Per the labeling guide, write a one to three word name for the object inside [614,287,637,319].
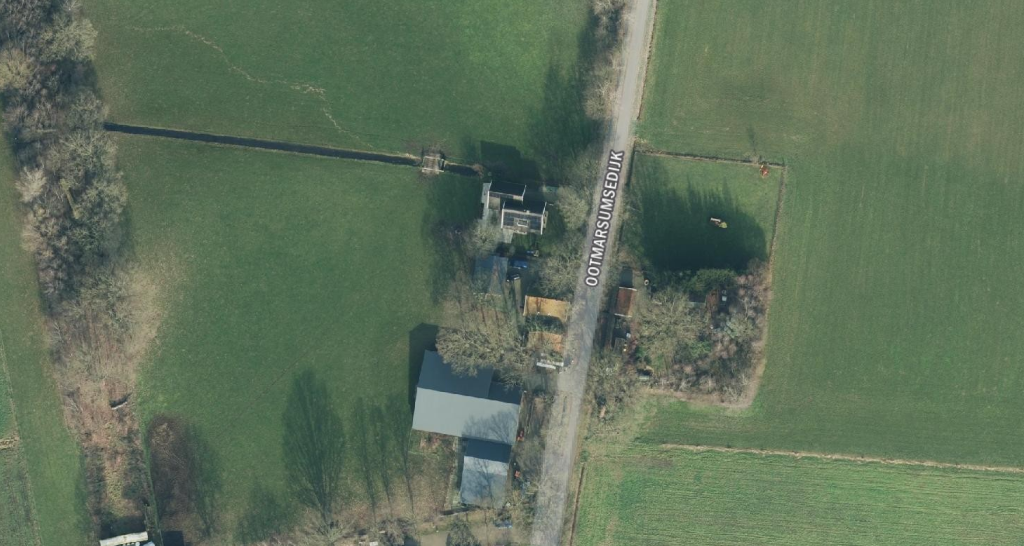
house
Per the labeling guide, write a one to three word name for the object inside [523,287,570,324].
house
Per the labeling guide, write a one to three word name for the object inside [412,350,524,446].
barn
